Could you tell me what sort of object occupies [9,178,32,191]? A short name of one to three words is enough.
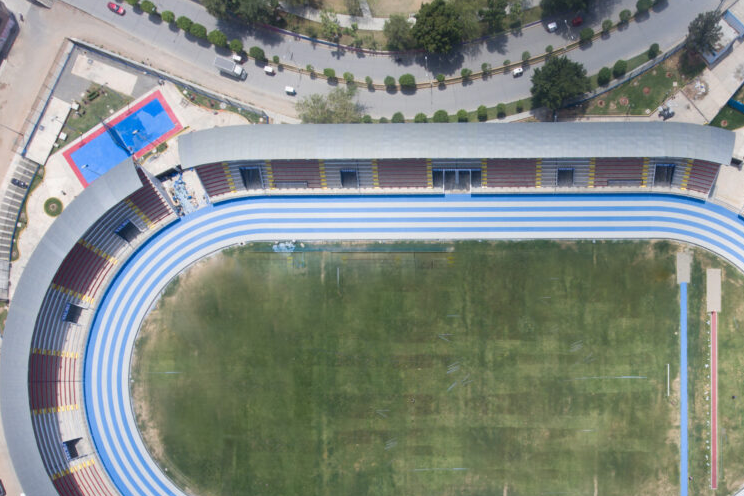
vehicle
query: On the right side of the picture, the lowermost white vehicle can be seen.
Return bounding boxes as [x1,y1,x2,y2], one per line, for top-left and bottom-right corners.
[510,65,525,79]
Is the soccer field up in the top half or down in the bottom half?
bottom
